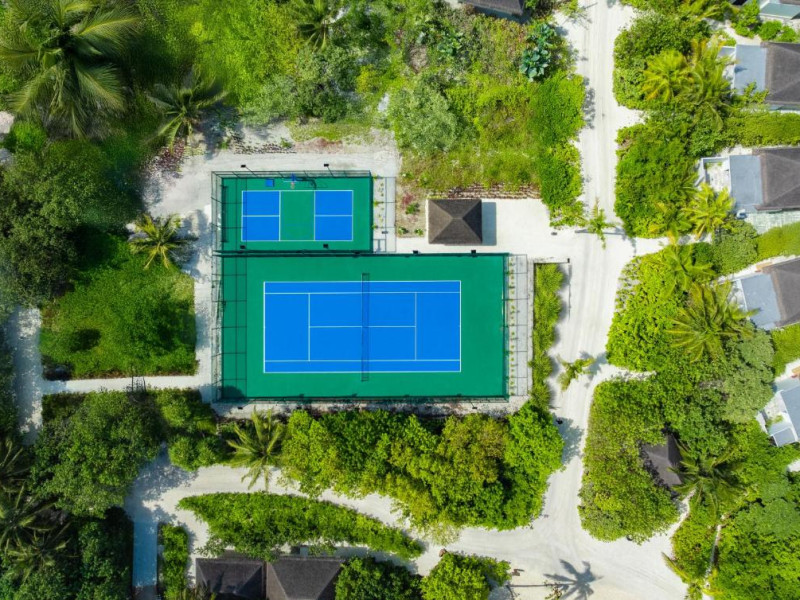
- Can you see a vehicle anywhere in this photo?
No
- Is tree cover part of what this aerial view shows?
Yes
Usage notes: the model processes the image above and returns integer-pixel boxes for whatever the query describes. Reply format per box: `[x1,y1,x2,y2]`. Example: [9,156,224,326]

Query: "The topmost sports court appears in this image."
[223,178,373,255]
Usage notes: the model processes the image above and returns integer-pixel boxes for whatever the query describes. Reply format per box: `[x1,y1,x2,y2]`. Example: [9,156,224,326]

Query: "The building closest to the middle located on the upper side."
[427,198,483,246]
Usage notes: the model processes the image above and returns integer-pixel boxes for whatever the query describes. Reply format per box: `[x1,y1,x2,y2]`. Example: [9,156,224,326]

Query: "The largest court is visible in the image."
[223,256,504,397]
